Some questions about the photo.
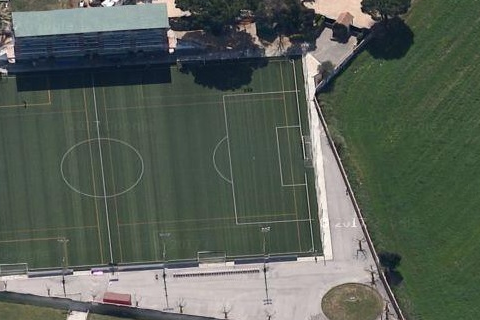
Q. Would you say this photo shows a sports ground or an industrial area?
sports ground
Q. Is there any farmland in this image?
Yes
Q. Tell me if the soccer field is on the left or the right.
left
